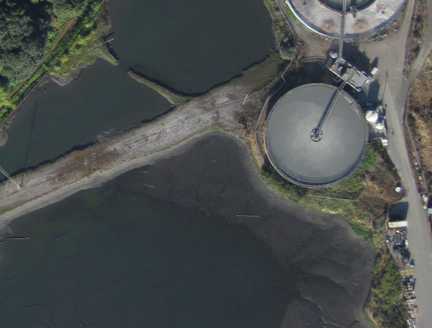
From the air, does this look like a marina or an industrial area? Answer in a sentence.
The area seen from above is an industrial area.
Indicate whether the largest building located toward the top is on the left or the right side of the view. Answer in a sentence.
The largest building located toward the top is on the right side of the image.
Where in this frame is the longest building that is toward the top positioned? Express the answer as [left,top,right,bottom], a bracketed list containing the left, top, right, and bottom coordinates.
[327,57,370,93]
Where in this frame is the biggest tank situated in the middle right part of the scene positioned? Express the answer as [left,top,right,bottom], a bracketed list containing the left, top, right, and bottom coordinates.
[262,81,369,187]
